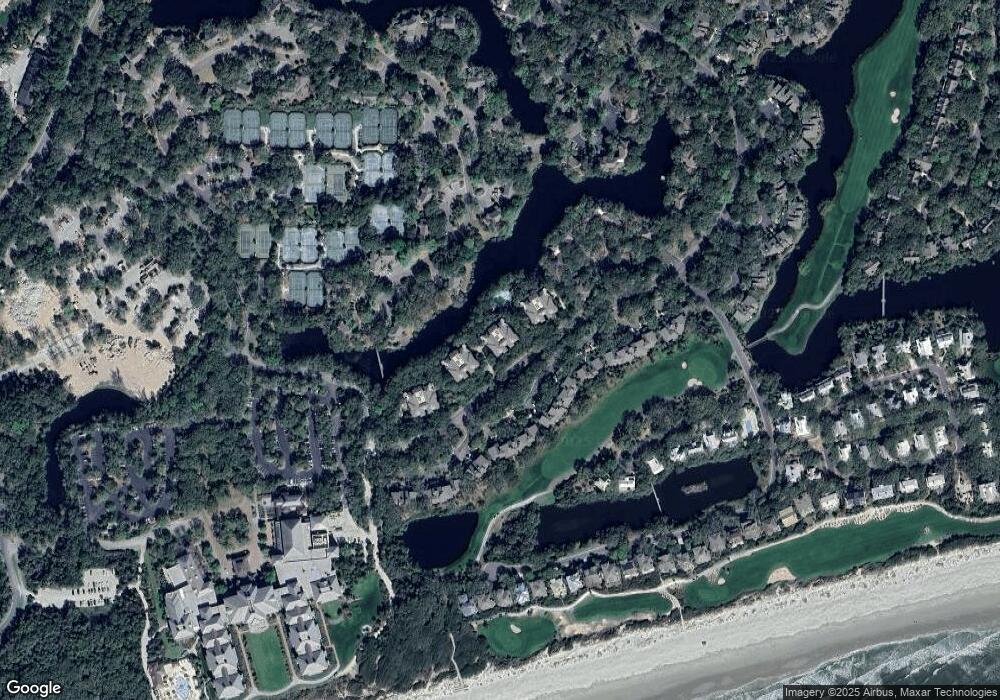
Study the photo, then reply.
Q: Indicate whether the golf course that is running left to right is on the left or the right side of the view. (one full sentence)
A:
You can find the golf course that is running left to right on the right side of the picture.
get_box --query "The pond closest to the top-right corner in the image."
[744,0,1000,390]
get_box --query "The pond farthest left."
[47,388,140,508]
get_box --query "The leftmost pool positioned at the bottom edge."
[153,657,204,700]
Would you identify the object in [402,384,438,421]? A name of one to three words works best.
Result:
house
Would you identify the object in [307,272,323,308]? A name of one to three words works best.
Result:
tennis court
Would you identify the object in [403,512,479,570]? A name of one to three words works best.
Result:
pond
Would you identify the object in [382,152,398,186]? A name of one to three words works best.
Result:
tennis court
